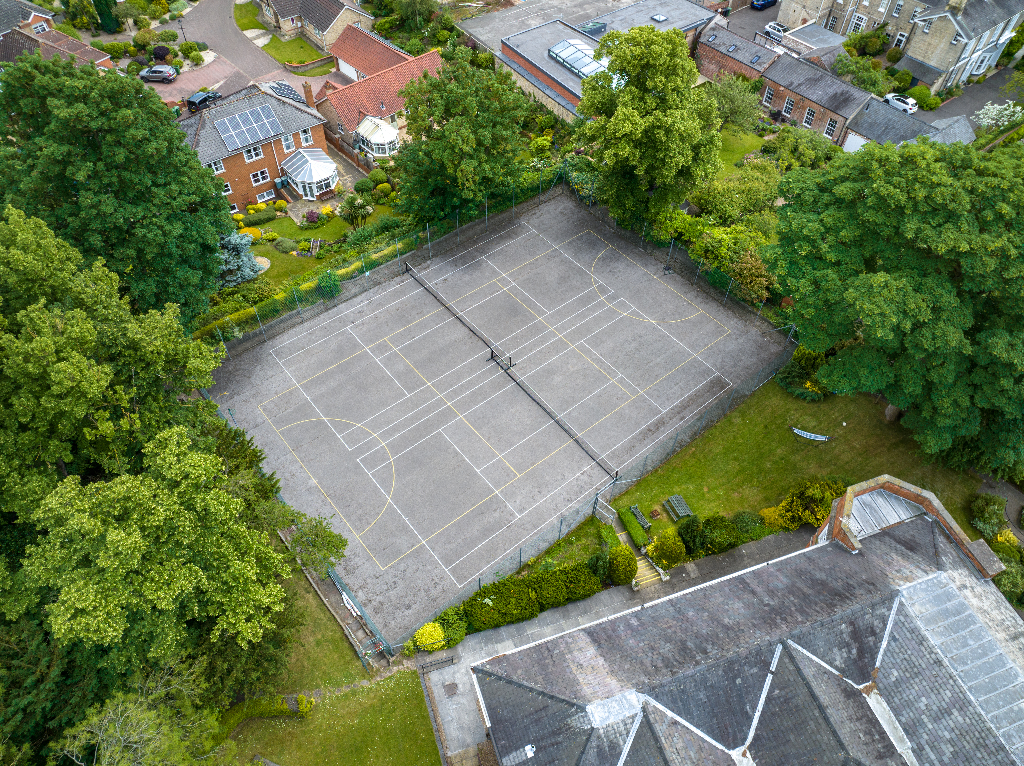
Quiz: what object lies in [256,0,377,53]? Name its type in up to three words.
house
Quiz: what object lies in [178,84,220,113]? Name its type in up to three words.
car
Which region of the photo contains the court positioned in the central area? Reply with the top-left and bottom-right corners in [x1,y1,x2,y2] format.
[200,192,794,662]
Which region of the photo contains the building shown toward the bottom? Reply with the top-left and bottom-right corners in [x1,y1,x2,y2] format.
[467,474,1024,766]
